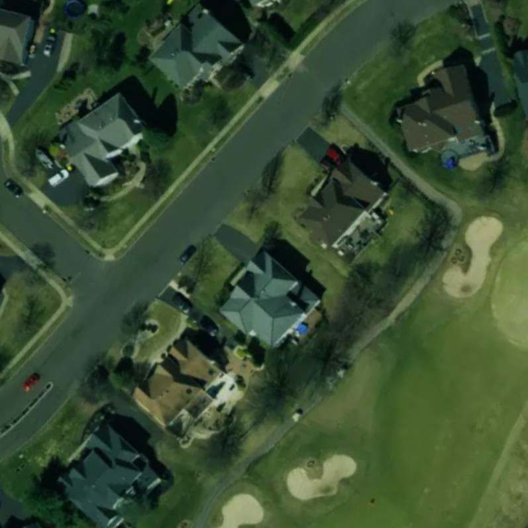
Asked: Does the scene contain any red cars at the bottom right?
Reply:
No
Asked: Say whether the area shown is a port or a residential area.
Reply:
residential area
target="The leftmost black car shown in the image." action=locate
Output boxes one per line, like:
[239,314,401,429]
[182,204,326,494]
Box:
[4,181,22,196]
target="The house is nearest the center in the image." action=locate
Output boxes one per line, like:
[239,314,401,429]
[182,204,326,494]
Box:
[223,252,322,351]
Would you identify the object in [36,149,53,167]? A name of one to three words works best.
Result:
car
